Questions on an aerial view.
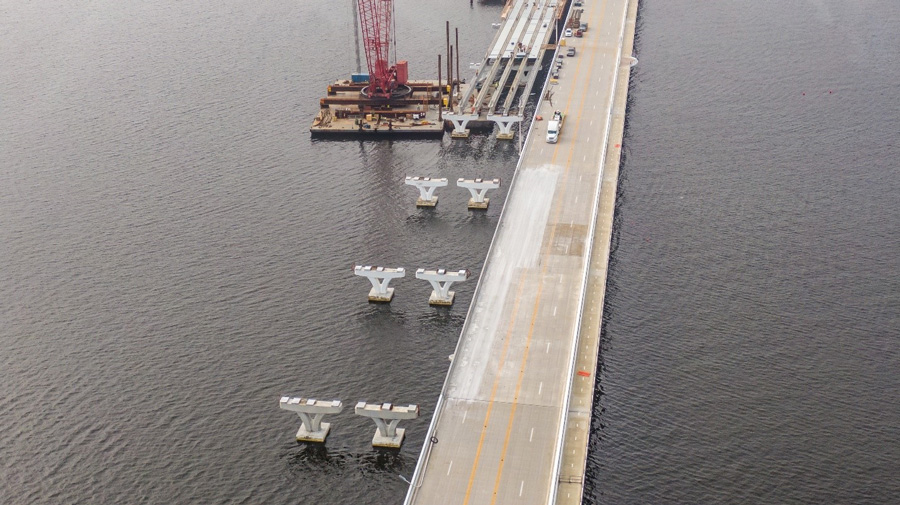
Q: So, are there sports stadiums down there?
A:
No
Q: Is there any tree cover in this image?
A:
No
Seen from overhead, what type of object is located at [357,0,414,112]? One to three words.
crane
